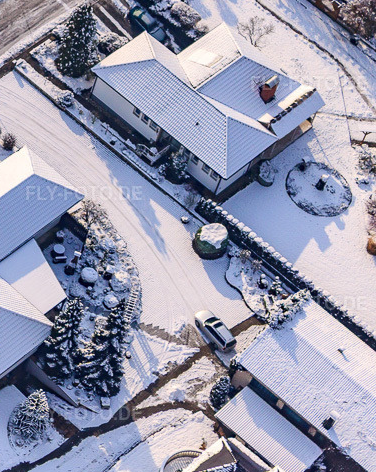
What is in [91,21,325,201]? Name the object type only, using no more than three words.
house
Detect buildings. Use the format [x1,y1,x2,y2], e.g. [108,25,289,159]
[0,146,83,377]
[238,299,376,472]
[156,437,294,472]
[91,21,325,201]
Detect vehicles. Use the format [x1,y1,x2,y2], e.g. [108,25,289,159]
[195,304,238,350]
[132,5,169,41]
